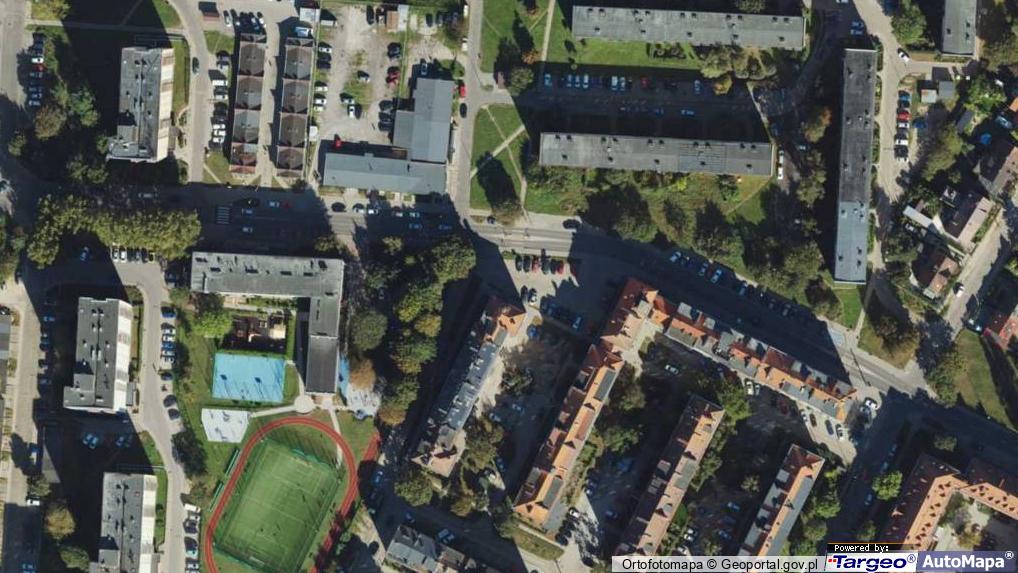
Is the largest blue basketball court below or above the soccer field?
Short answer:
above it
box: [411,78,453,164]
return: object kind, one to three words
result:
building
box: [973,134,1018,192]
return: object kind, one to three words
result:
house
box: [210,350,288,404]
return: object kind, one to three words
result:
basketball court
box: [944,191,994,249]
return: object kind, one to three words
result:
house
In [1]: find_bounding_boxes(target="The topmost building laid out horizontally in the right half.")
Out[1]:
[573,6,805,54]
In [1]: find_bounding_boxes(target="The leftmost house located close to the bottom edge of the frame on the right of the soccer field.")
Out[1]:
[387,527,449,573]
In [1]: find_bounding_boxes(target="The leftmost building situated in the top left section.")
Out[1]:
[107,48,180,167]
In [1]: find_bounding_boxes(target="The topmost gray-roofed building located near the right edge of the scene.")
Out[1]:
[942,0,977,58]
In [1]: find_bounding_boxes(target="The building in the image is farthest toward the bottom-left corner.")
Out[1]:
[88,473,161,573]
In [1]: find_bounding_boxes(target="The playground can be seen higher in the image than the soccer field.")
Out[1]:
[226,314,285,351]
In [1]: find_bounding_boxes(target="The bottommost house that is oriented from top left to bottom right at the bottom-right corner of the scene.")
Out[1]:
[944,455,1018,520]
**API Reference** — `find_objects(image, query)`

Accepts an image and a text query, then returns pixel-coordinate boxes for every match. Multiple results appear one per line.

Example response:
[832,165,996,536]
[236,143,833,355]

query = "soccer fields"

[206,433,345,573]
